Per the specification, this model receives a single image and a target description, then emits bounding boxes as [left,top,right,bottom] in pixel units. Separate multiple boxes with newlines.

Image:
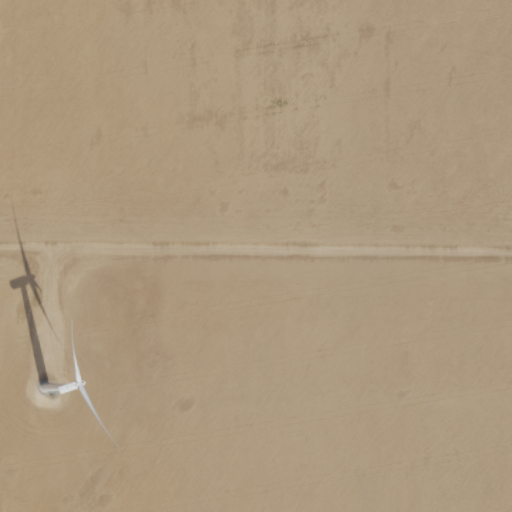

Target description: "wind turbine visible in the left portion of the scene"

[40,316,116,439]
